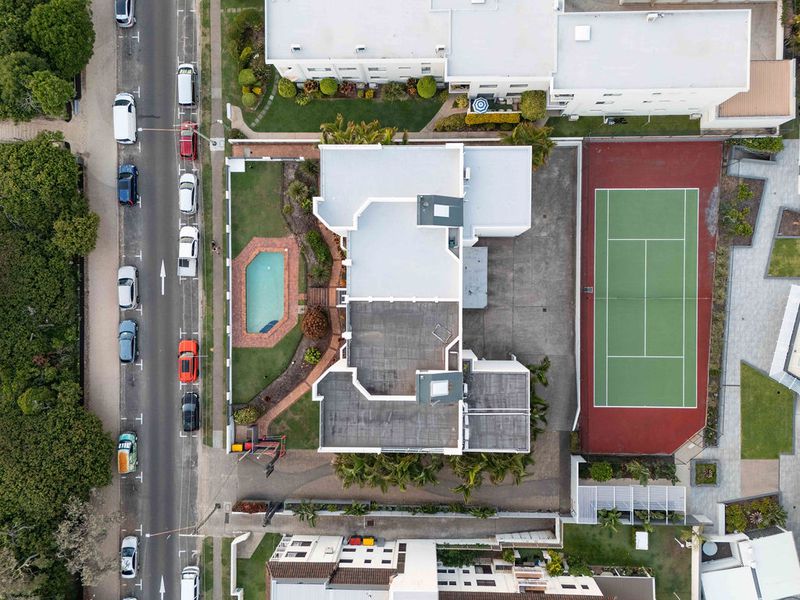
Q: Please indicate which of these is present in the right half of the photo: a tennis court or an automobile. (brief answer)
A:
tennis court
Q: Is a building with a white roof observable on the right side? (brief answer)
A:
Yes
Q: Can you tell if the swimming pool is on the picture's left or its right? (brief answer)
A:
left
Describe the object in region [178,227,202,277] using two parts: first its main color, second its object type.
white truck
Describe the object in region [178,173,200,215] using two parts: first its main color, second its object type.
white car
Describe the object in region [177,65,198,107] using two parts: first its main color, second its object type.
white vehicle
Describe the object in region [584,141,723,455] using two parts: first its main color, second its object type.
green tennis court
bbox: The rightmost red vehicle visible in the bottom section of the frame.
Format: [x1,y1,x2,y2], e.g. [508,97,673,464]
[178,340,201,382]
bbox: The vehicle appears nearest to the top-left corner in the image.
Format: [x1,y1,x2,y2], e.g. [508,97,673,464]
[115,0,138,27]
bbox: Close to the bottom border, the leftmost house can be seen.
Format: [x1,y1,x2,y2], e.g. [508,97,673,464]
[266,535,346,600]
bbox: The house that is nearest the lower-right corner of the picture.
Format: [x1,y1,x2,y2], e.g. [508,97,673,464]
[699,526,800,600]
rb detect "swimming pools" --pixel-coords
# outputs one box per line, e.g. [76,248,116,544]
[235,237,299,348]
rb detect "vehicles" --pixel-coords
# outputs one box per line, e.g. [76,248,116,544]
[117,266,141,309]
[178,173,200,215]
[178,340,201,382]
[177,65,198,107]
[120,534,141,580]
[117,166,141,206]
[112,96,140,145]
[178,227,202,277]
[178,121,200,162]
[180,391,202,433]
[180,563,203,600]
[118,430,141,475]
[115,0,138,27]
[117,320,141,362]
